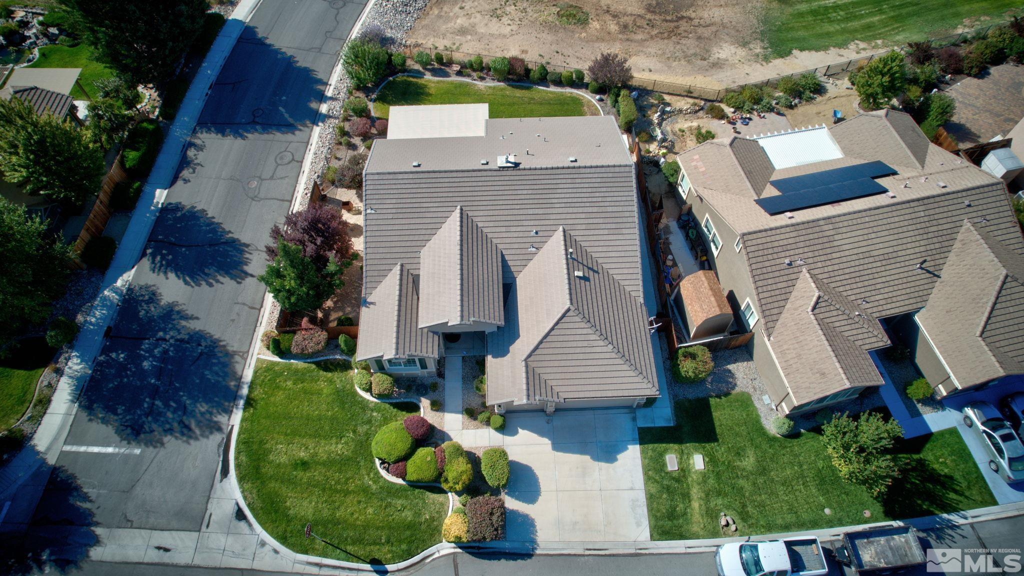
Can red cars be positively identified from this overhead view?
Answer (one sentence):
No, the frame has no red car in it.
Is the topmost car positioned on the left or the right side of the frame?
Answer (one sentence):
The topmost car is on the right side of the image.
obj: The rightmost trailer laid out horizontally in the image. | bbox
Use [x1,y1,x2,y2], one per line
[821,524,926,576]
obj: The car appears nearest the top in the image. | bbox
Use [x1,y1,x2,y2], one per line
[1000,380,1024,432]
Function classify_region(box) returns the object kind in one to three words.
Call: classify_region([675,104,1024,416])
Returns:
house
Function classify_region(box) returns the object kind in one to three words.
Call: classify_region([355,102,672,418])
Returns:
house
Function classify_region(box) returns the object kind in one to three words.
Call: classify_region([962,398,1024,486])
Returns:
car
